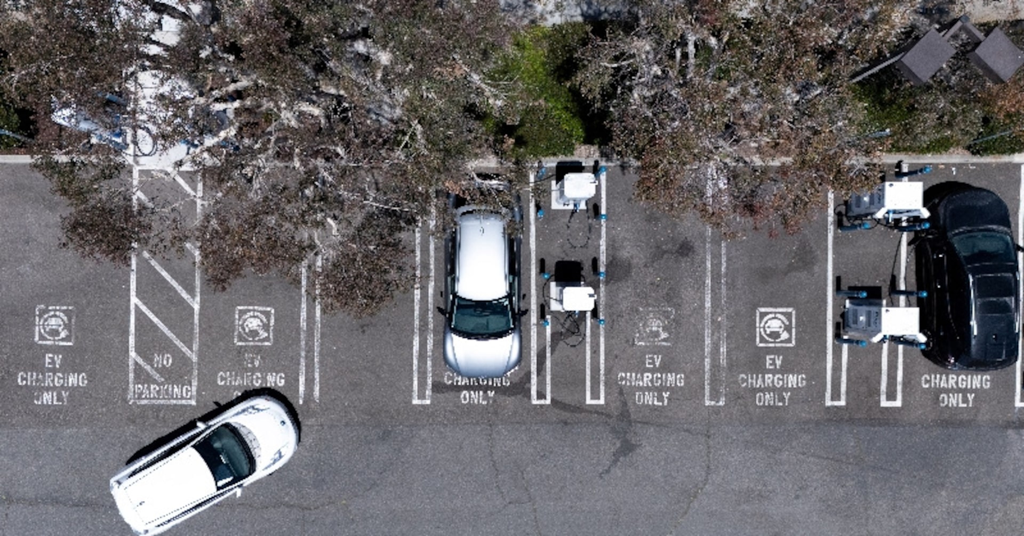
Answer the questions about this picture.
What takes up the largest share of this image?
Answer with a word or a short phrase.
paved ground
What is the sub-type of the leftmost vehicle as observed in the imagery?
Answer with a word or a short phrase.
car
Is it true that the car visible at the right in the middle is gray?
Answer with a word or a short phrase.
No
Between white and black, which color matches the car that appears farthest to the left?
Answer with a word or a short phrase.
white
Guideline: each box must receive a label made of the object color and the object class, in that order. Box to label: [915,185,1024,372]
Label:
black car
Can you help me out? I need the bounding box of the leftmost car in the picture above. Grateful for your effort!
[112,393,297,535]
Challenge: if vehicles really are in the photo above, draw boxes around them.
[112,393,297,535]
[431,182,532,380]
[915,185,1024,372]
